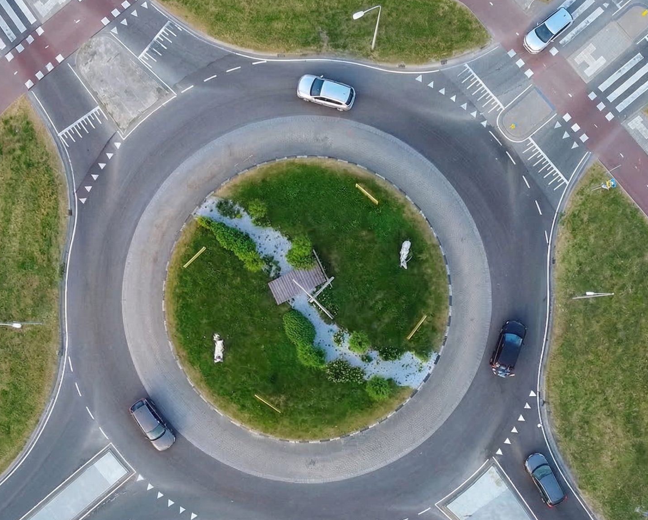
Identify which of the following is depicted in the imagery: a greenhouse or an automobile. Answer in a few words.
automobile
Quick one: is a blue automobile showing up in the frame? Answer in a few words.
Yes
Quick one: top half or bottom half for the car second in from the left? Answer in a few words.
top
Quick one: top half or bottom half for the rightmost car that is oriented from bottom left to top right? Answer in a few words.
top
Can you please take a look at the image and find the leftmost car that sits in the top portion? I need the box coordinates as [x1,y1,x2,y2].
[298,74,356,113]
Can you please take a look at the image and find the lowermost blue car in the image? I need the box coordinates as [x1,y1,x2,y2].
[523,451,569,509]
